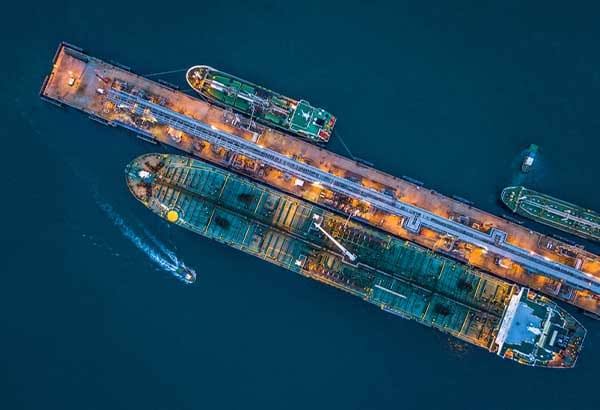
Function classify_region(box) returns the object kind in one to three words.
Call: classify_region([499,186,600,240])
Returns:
ship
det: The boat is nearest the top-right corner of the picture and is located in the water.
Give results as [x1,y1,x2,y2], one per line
[521,145,537,171]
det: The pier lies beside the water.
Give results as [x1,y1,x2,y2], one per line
[42,45,600,316]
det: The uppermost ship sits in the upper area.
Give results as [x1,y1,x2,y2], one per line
[185,64,338,143]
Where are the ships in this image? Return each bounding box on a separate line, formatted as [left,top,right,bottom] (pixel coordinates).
[499,186,600,240]
[122,152,587,367]
[185,64,338,143]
